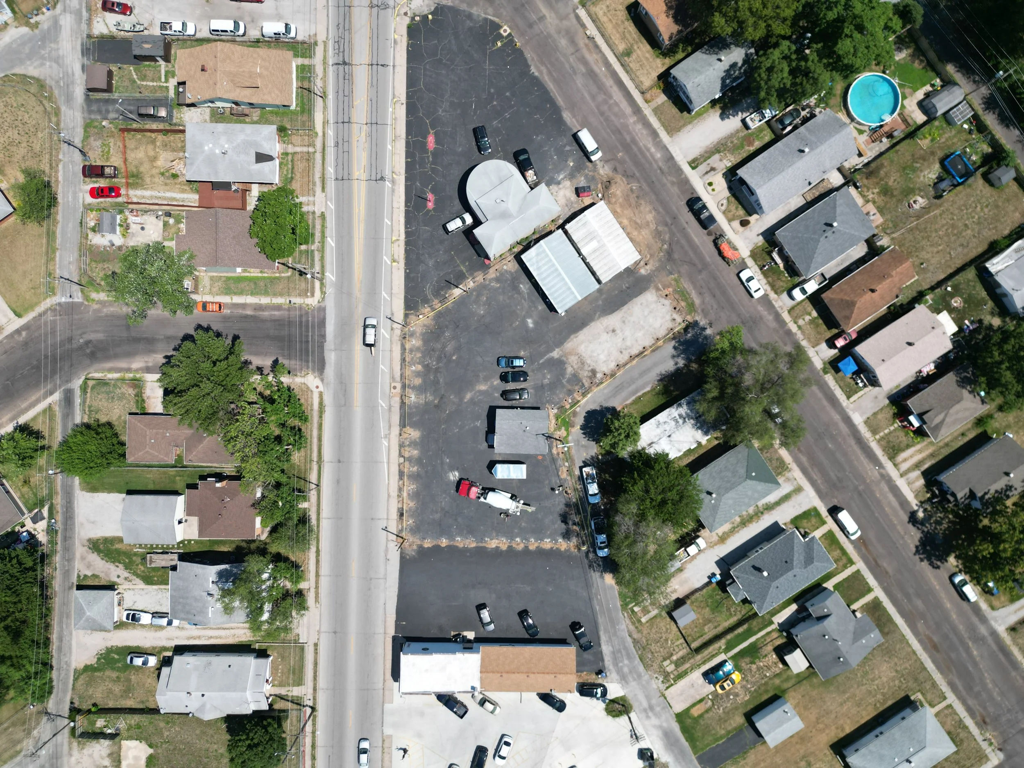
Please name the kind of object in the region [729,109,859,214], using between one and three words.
house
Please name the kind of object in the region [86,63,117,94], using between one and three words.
shed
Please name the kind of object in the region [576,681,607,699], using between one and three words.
car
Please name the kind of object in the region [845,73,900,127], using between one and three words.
swimming pool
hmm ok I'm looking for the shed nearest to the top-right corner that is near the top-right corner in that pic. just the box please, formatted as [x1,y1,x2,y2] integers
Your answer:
[921,83,965,121]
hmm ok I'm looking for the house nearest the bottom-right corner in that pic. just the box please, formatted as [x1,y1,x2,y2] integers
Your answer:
[842,700,957,768]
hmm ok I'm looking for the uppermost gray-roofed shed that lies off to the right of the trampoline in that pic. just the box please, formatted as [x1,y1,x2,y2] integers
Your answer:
[982,164,1019,193]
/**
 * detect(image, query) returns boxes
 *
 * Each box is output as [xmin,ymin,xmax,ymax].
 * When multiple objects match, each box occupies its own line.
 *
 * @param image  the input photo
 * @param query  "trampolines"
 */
[942,151,975,183]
